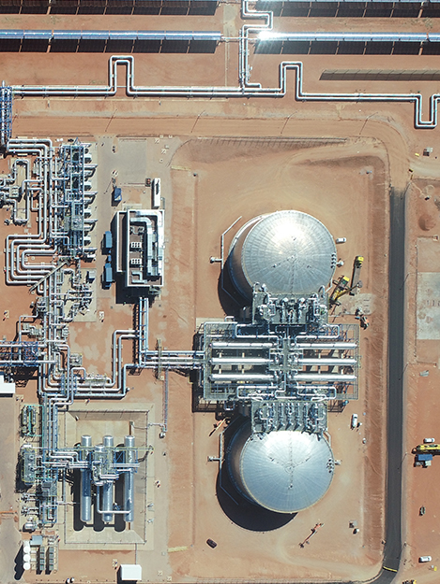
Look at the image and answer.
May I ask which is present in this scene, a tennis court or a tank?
tank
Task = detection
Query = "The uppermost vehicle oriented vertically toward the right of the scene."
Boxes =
[351,258,366,295]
